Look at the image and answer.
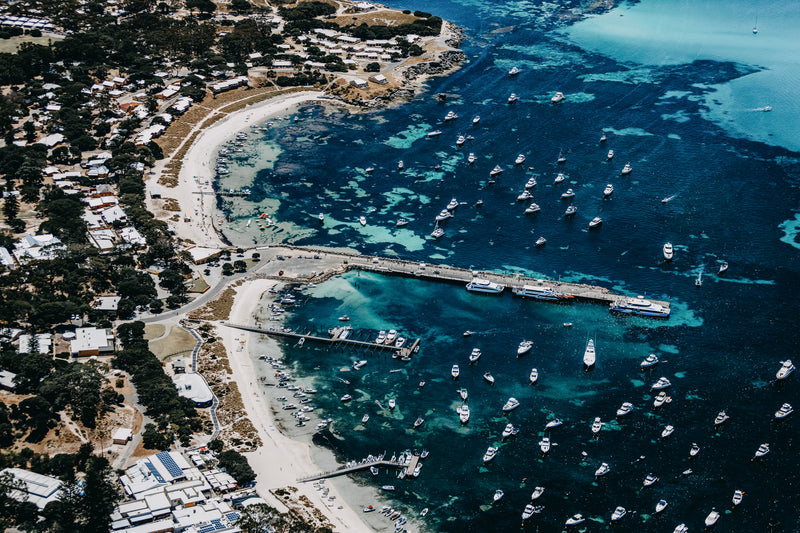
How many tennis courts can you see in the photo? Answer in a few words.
0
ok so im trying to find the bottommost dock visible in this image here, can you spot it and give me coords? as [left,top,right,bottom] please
[298,454,420,484]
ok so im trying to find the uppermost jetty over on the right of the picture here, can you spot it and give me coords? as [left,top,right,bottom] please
[338,256,669,306]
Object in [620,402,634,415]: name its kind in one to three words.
boat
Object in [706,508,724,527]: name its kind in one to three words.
boat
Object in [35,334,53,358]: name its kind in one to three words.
building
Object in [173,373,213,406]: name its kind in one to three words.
building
